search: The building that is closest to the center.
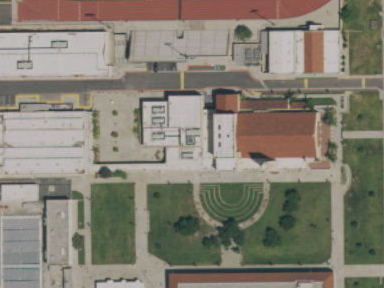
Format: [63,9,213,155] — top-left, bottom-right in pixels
[143,96,210,164]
